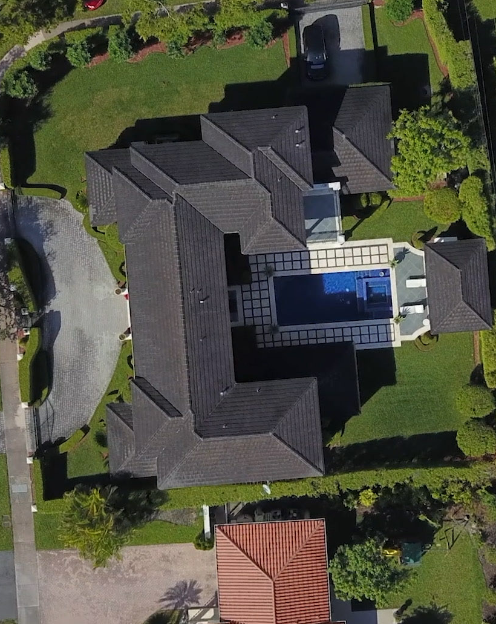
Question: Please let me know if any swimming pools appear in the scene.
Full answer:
Yes, the frame does contain a swimming pool.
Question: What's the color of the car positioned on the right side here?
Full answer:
The car positioned on the right side is black.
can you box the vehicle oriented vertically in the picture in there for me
[301,20,331,83]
